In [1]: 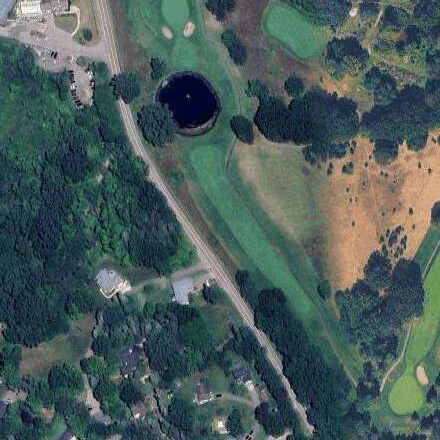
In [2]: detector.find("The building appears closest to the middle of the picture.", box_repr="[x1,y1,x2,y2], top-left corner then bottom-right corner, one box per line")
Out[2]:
[175,278,193,303]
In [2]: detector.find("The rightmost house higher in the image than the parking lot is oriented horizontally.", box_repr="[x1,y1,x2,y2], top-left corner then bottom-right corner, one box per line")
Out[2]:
[40,0,69,14]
